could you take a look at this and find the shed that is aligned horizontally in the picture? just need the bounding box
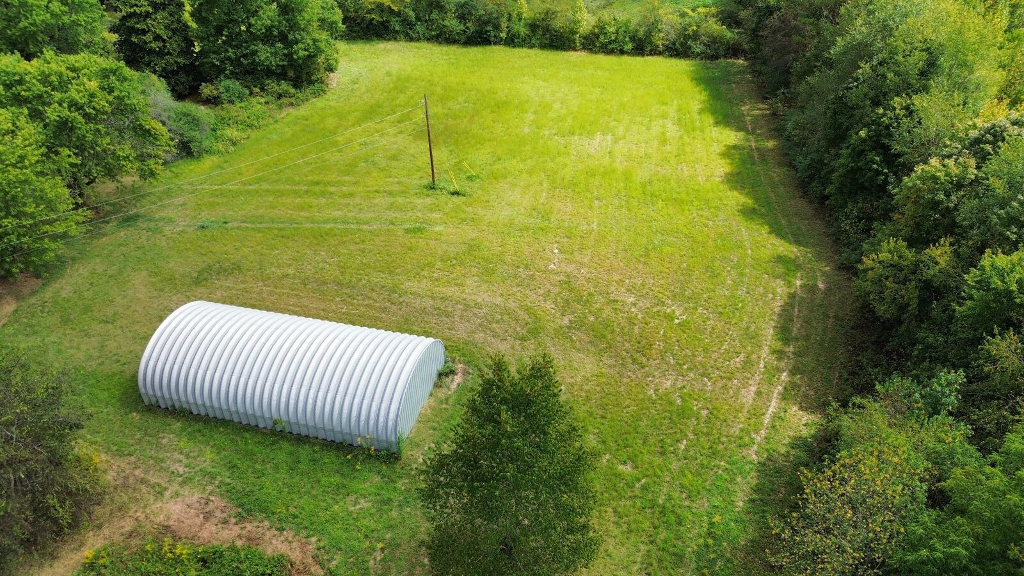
[136,301,448,462]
